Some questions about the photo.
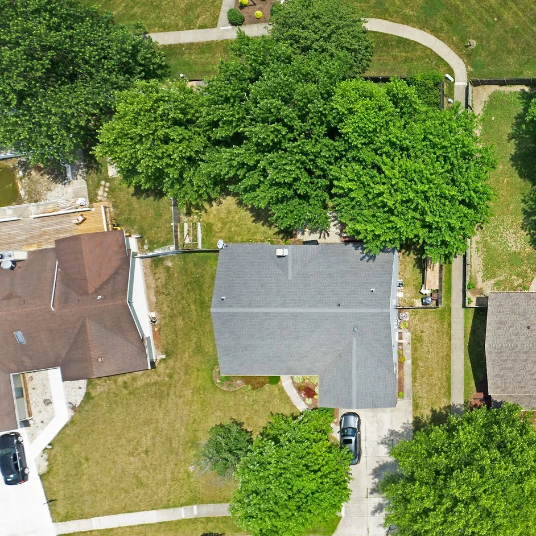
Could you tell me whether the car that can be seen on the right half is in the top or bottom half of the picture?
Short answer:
bottom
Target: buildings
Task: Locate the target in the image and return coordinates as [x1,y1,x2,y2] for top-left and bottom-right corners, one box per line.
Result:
[208,242,399,409]
[485,290,536,411]
[0,230,154,432]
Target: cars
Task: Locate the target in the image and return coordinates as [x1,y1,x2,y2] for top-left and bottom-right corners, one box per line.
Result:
[0,431,23,488]
[337,411,363,467]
